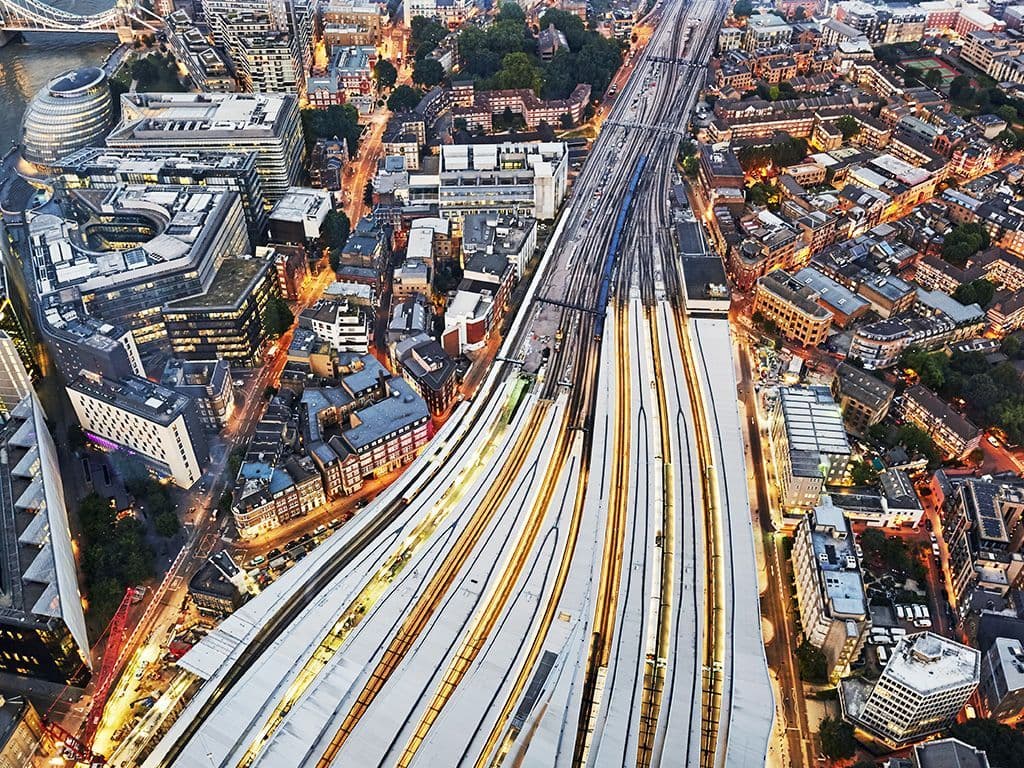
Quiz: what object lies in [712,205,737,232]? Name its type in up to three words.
building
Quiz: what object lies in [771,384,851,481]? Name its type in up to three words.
building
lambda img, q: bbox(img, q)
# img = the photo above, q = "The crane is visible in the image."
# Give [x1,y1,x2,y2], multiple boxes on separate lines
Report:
[37,583,136,768]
